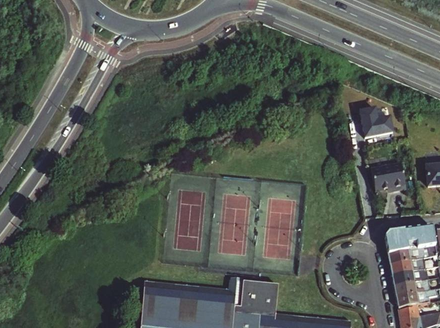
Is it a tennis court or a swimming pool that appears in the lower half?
tennis court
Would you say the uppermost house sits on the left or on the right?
right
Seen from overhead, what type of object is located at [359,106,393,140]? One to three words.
house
